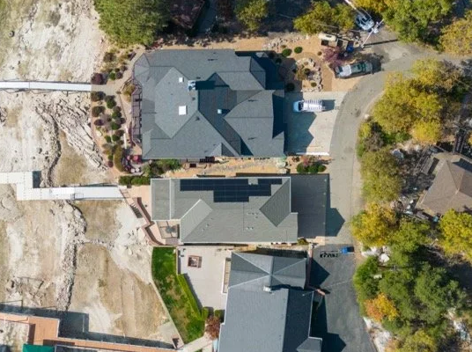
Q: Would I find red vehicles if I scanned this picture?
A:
No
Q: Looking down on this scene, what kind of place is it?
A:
residential area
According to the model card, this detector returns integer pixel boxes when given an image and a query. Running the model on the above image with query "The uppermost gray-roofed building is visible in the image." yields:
[135,51,284,161]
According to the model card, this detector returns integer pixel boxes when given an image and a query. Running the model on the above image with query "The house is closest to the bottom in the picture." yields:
[218,252,322,352]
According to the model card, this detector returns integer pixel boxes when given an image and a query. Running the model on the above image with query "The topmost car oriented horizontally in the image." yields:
[334,59,375,80]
